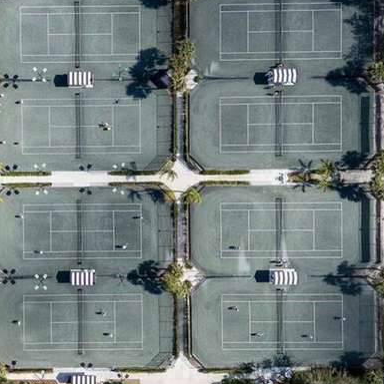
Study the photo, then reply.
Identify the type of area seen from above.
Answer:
sports ground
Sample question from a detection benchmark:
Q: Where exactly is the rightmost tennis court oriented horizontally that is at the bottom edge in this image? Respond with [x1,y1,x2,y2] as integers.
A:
[191,278,376,368]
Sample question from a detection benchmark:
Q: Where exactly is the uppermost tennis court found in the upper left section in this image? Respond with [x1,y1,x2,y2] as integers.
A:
[0,0,173,80]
